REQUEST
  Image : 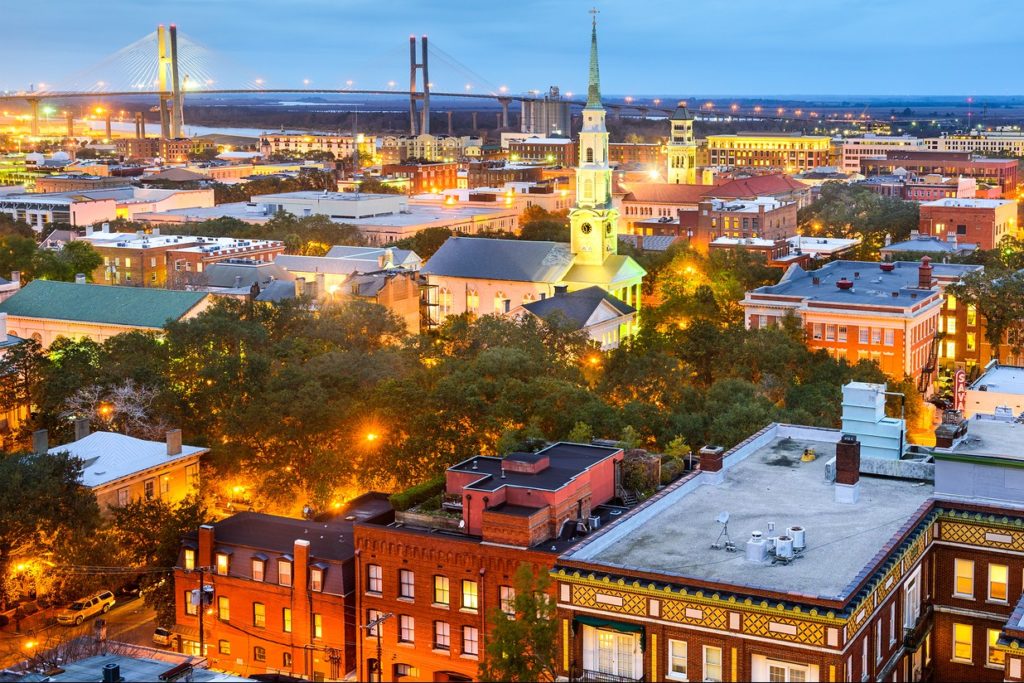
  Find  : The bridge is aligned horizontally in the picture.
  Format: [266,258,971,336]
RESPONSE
[0,25,771,137]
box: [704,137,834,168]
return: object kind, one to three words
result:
building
